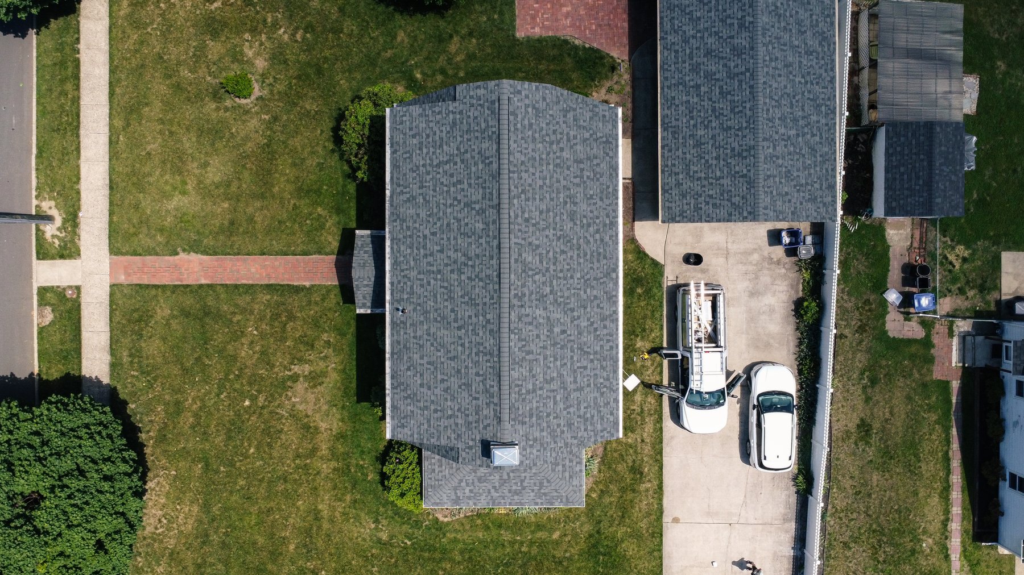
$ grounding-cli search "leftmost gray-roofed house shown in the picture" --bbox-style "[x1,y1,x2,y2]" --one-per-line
[351,80,622,508]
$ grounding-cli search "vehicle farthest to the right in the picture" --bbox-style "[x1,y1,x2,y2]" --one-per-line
[744,364,801,474]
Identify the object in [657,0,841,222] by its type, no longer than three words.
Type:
building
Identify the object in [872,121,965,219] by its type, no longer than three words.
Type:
shed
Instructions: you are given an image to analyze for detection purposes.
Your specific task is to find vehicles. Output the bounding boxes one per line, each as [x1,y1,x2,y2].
[650,283,745,434]
[744,364,801,474]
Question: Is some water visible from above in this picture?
No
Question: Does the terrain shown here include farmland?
No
